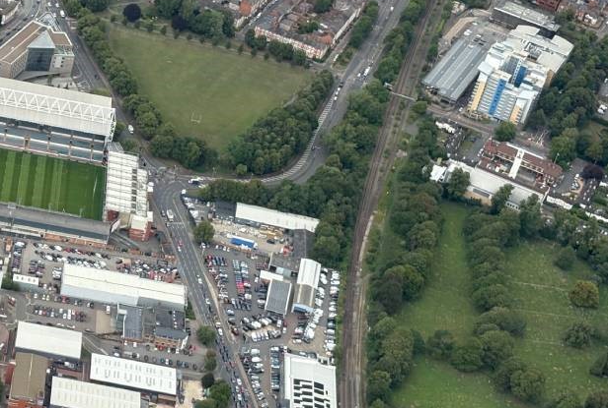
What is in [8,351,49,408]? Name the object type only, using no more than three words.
building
